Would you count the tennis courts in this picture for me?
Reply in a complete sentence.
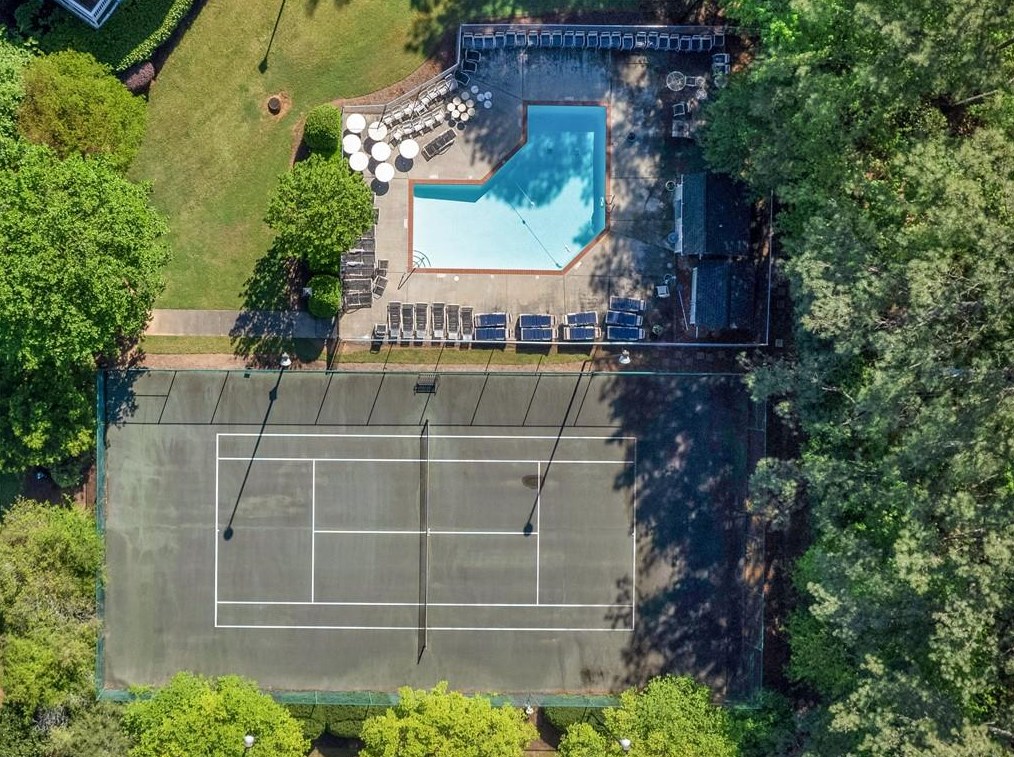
The picture shows 1 tennis court.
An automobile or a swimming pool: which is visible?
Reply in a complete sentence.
The one in the frame is a swimming pool.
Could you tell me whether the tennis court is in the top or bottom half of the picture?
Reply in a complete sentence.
It is in the bottom half that the tennis court appears.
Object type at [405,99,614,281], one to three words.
swimming pool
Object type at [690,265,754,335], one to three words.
shed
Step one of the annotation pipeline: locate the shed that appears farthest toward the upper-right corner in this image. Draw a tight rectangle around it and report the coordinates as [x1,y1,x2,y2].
[674,171,747,260]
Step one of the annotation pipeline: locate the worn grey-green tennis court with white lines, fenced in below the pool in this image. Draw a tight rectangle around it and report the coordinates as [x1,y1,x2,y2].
[105,373,750,692]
